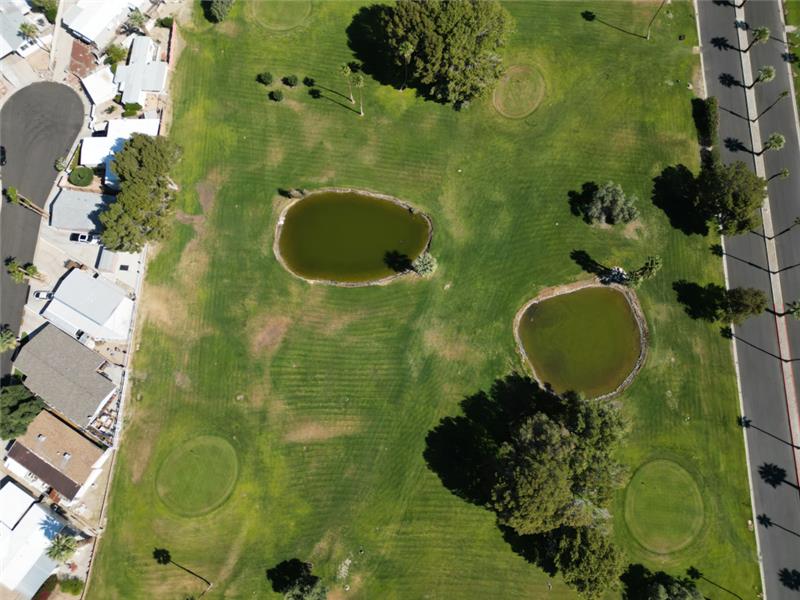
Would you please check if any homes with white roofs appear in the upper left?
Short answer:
Yes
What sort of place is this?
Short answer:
golf course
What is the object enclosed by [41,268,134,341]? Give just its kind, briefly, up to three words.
house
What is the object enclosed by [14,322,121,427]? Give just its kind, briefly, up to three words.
house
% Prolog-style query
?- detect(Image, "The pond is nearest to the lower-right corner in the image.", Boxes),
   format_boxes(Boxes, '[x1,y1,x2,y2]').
[516,282,647,403]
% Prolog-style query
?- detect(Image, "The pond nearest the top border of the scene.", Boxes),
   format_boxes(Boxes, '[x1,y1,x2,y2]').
[276,188,433,286]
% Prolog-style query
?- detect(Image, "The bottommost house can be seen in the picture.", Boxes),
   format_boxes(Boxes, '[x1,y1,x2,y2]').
[0,480,69,600]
